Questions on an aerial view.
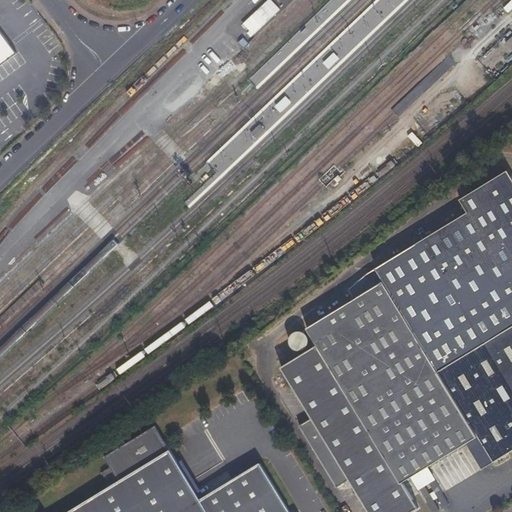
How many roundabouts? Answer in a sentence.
There are no roundabouts in the image.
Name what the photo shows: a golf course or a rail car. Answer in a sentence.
It is a rail car that can be seen here.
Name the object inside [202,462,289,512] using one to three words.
building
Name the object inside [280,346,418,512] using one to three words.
building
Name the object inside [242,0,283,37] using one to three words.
shed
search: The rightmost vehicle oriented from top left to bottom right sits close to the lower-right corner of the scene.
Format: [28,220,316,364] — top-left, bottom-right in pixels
[424,483,439,502]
